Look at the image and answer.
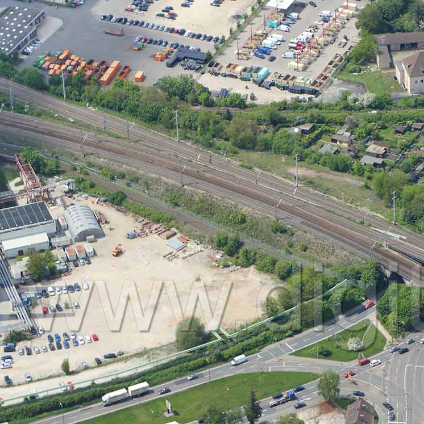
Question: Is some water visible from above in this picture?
No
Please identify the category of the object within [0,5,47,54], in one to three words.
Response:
building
